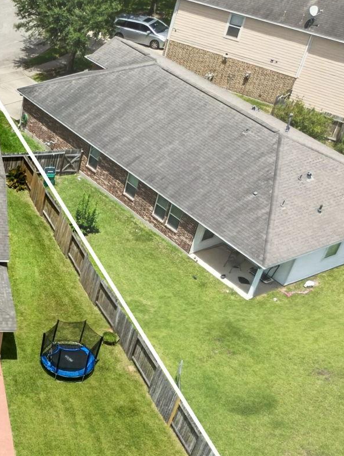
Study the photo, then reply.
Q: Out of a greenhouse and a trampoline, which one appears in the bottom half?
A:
trampoline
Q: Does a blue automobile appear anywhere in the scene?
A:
No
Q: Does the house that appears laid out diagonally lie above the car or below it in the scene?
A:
below it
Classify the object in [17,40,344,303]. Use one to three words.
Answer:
house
